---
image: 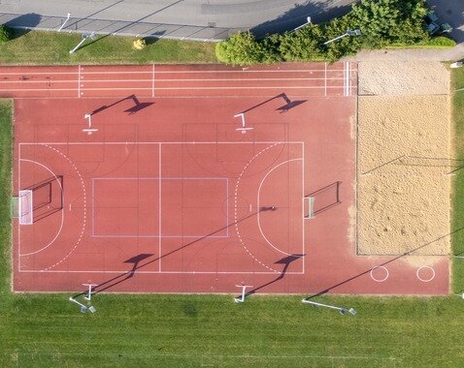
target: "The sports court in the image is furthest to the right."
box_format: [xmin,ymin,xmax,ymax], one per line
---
[356,95,459,256]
